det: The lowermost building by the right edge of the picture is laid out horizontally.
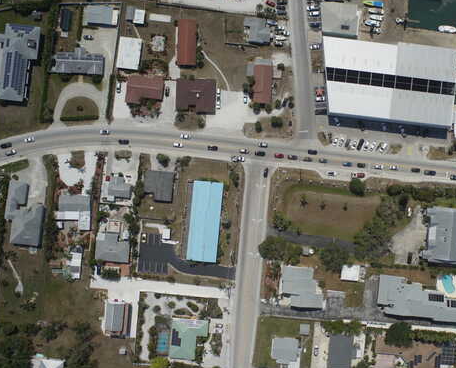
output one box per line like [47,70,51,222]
[374,333,440,368]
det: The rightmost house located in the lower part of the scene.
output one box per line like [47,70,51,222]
[424,206,456,264]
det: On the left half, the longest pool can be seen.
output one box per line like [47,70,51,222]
[154,321,170,357]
